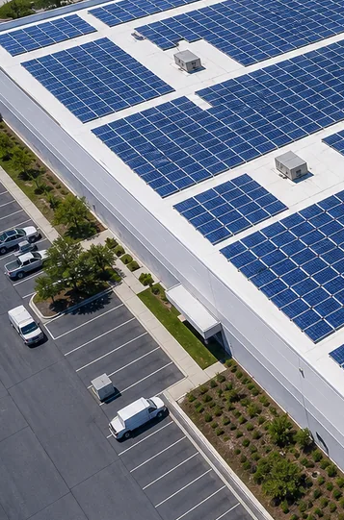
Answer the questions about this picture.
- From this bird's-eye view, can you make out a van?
Yes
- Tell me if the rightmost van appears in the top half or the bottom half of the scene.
bottom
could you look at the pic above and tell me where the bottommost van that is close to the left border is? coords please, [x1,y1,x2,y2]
[0,303,41,346]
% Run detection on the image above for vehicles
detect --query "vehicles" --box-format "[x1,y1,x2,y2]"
[0,303,41,346]
[1,248,55,280]
[110,393,174,438]
[0,225,39,255]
